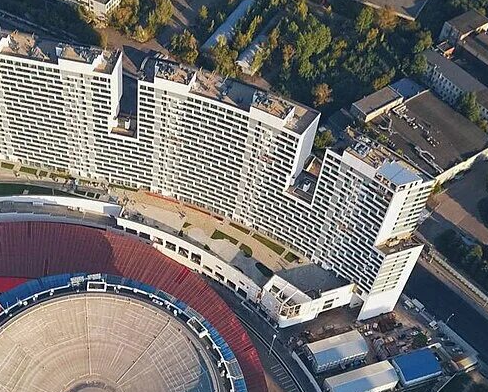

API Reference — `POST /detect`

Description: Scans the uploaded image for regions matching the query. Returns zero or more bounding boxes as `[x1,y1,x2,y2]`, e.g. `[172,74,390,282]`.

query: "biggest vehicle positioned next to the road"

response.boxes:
[410,293,428,310]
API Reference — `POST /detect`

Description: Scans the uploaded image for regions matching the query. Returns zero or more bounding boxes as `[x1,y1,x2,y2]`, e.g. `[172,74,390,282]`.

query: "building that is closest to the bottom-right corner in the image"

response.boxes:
[446,354,480,377]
